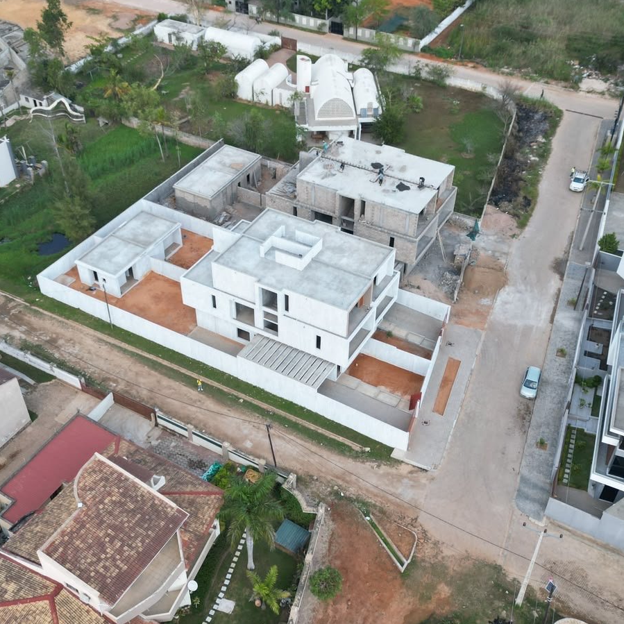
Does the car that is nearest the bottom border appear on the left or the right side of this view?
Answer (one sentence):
It is on the right.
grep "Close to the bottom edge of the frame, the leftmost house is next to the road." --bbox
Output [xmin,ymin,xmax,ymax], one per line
[0,411,224,624]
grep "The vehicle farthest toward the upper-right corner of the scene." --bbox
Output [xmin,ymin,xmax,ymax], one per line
[570,170,587,194]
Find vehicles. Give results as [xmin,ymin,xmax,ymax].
[520,364,543,398]
[570,170,587,194]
